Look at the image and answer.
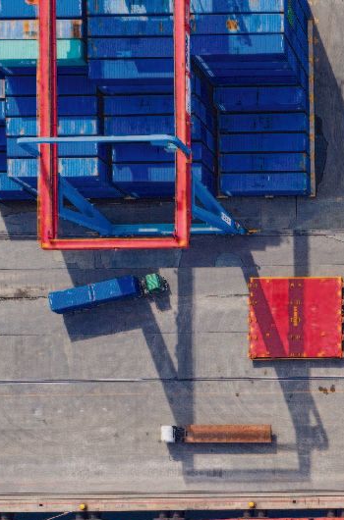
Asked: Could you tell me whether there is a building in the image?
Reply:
No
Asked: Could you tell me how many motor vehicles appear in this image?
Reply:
two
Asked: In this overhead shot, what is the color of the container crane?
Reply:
red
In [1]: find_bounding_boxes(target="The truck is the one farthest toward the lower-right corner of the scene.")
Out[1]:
[161,423,271,445]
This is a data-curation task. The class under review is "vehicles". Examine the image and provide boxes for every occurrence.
[161,423,271,445]
[58,269,170,314]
